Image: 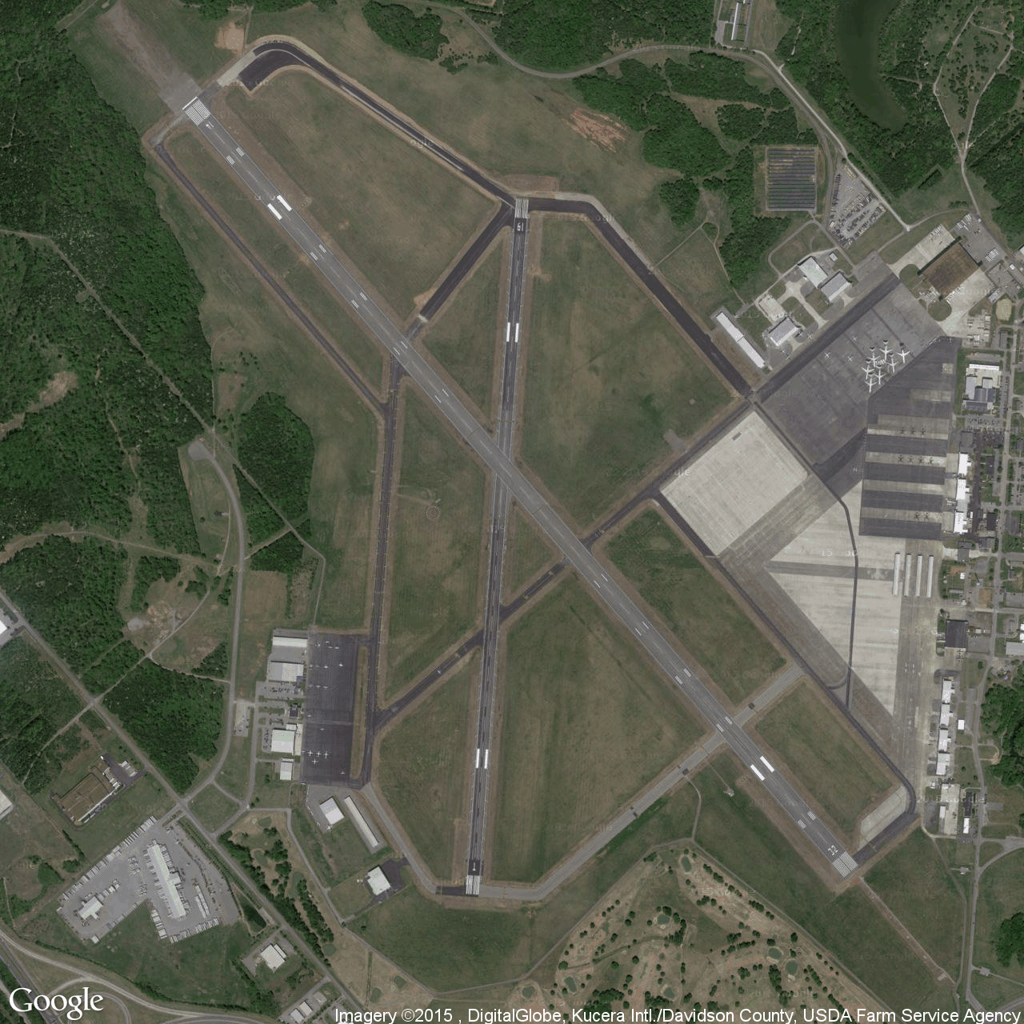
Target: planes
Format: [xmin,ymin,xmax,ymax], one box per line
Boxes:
[867,349,879,367]
[897,345,909,363]
[880,342,892,360]
[862,361,874,379]
[873,365,886,384]
[886,354,899,372]
[864,374,876,392]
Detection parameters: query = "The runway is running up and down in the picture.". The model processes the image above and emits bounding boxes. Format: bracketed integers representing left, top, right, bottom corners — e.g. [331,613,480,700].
[465,198,530,895]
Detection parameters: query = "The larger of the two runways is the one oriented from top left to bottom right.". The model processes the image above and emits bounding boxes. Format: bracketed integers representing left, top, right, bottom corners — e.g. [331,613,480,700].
[182,96,860,880]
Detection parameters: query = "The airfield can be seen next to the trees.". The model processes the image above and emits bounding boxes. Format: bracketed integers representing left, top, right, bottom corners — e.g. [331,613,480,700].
[149,40,961,900]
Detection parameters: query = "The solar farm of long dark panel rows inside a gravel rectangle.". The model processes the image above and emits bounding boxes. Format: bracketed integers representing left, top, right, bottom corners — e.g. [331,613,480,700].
[769,151,816,209]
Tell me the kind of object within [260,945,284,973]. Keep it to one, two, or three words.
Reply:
building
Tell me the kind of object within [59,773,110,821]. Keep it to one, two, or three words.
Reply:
building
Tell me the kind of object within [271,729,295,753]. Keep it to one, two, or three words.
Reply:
hangar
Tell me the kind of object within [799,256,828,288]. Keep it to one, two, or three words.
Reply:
hangar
